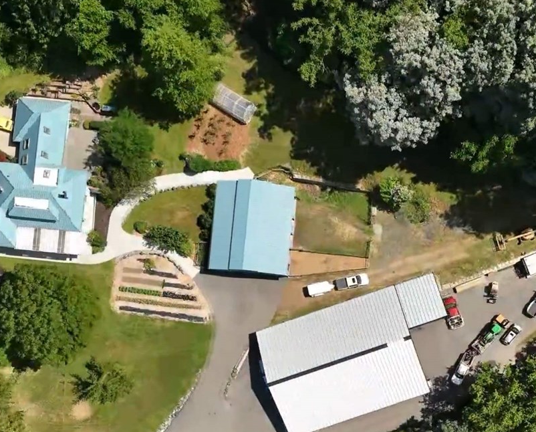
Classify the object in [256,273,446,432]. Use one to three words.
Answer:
barn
